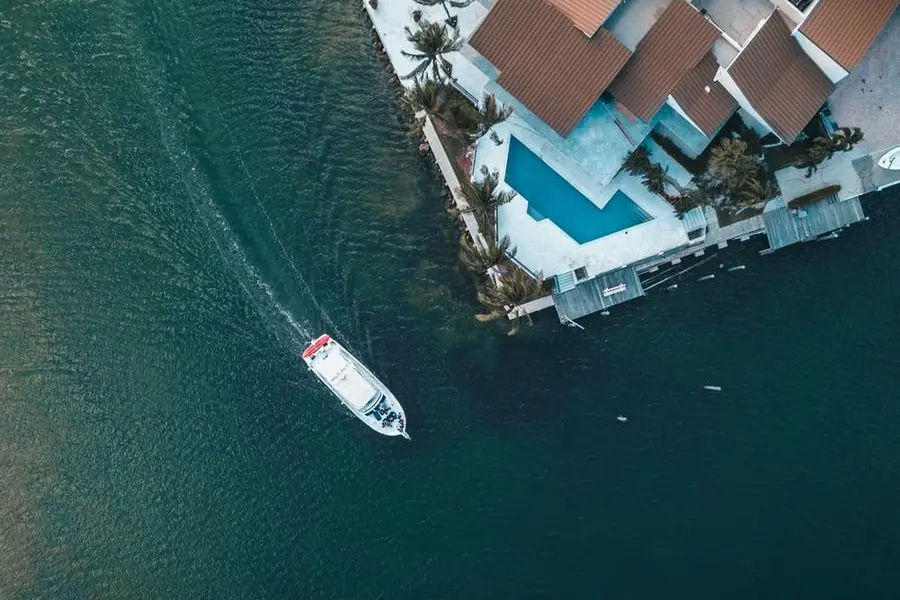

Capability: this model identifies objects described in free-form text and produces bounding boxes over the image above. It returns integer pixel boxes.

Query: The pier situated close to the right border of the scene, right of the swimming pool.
[766,200,867,250]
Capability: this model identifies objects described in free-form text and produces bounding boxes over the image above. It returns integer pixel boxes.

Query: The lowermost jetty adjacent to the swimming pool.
[553,269,646,320]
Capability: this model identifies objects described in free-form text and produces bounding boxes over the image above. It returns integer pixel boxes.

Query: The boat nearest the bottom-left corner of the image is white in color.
[303,332,412,441]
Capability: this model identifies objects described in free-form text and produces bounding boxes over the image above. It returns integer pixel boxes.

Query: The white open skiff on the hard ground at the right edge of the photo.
[877,148,900,171]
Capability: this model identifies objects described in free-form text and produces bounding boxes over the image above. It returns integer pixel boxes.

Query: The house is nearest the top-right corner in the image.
[758,0,900,85]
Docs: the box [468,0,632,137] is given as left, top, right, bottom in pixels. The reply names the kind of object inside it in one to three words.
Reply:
house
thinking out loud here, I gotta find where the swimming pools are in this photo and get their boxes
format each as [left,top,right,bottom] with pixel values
[504,135,654,244]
